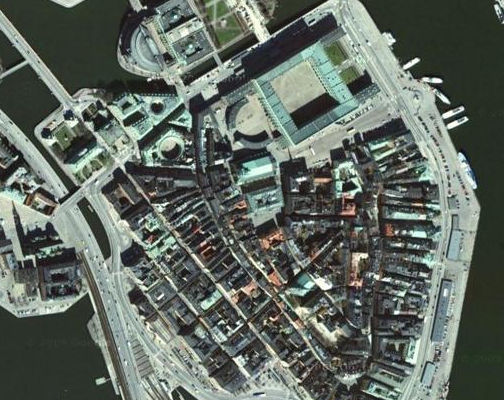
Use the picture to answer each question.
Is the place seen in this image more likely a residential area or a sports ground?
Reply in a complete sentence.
This image shows a residential area.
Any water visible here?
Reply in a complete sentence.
Yes, there is water in the image.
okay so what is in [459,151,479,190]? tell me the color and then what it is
white boat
